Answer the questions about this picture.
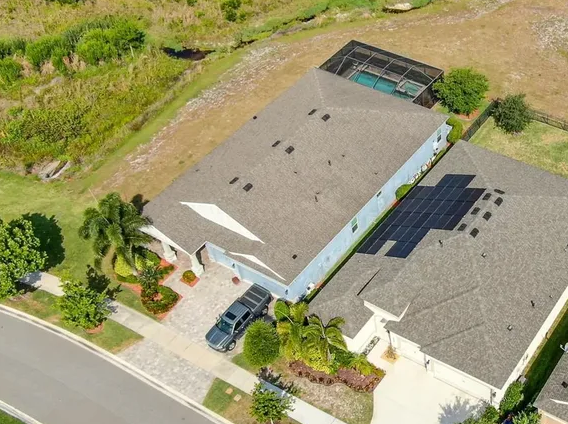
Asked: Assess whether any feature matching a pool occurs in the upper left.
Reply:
No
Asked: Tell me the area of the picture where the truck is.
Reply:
bottom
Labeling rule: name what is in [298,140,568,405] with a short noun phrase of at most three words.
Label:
house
